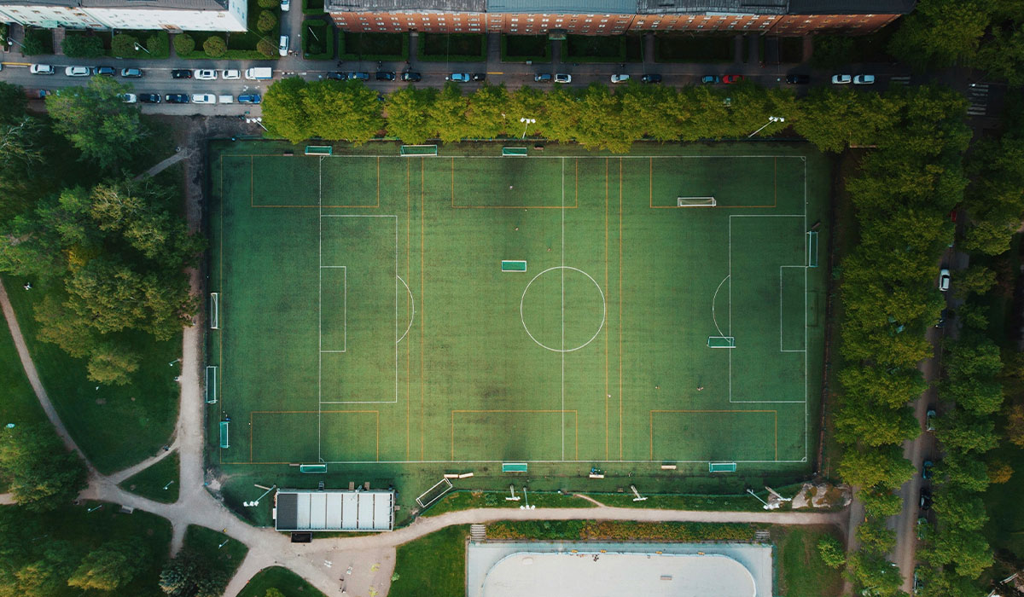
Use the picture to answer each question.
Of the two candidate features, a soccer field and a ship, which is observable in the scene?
soccer field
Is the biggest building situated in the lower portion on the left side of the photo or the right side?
left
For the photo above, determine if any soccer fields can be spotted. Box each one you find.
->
[208,141,830,529]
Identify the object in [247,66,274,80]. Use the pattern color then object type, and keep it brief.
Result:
white vehicle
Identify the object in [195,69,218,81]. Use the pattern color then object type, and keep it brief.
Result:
white vehicle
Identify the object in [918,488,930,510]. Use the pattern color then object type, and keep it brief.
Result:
black vehicle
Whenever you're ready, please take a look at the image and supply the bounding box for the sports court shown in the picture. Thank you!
[465,540,775,597]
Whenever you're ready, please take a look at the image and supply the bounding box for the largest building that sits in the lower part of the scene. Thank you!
[274,488,396,532]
